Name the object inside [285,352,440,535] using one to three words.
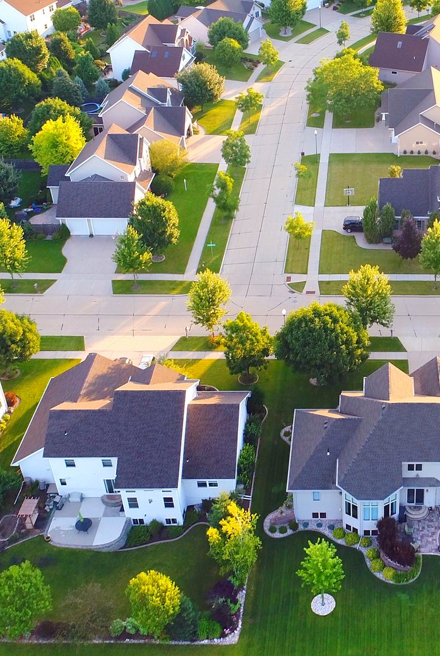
house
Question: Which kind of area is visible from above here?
residential area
